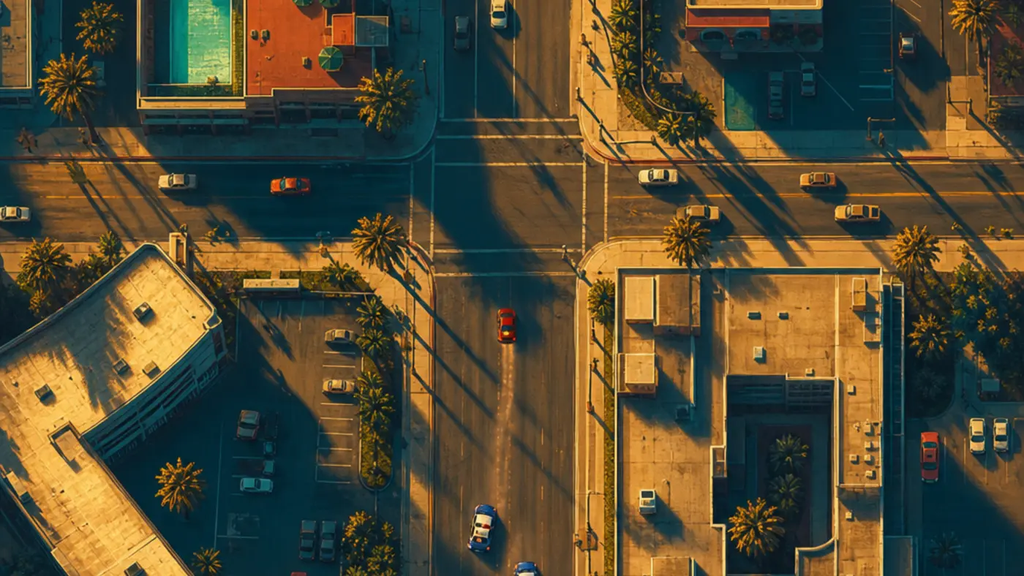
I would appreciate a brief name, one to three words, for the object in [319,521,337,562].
car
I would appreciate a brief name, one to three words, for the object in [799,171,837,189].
car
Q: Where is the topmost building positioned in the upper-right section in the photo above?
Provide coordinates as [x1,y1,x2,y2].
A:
[682,0,825,59]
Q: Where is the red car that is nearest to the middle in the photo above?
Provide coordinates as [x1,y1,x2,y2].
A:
[498,308,516,345]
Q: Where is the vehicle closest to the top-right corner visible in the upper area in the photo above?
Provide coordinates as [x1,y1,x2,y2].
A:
[899,33,917,57]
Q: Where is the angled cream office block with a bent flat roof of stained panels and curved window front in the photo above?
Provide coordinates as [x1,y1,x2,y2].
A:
[0,242,233,576]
